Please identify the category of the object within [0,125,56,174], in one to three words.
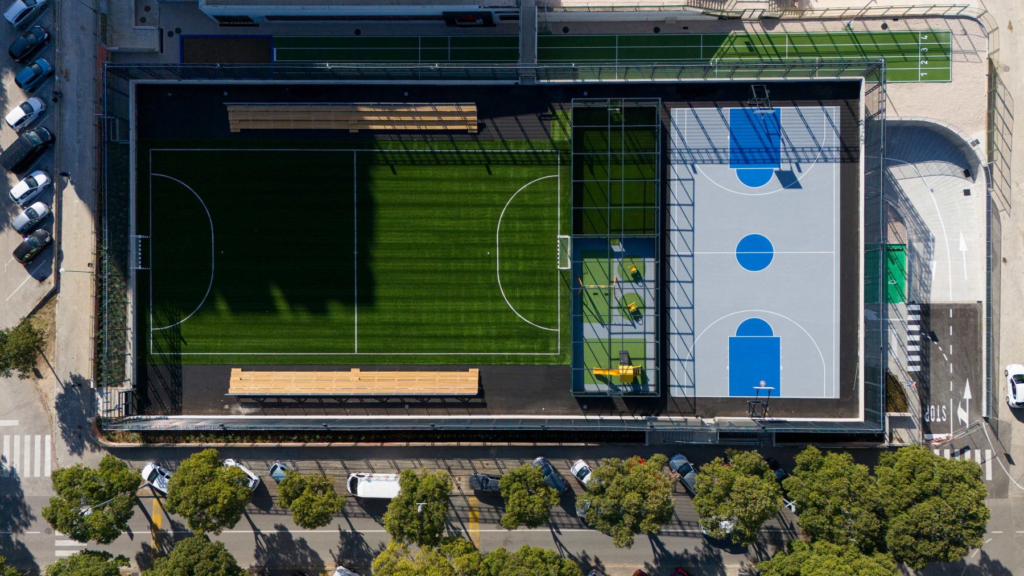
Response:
van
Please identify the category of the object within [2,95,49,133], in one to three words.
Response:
car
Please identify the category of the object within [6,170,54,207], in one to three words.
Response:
car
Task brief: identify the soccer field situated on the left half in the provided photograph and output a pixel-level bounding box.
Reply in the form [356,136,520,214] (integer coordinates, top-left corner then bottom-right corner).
[146,107,568,365]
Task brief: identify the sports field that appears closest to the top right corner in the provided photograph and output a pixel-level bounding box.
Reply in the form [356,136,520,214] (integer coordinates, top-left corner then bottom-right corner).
[570,111,650,246]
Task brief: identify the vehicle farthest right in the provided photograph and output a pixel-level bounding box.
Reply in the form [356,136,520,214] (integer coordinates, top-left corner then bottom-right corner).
[1002,364,1024,408]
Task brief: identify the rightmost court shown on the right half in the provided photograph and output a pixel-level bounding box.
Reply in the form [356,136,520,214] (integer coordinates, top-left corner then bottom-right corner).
[671,106,840,398]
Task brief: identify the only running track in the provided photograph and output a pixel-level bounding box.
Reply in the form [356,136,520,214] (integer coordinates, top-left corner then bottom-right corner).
[274,30,952,77]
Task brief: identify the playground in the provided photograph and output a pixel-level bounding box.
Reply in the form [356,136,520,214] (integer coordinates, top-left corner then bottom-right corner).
[570,238,650,388]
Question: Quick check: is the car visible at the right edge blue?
No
